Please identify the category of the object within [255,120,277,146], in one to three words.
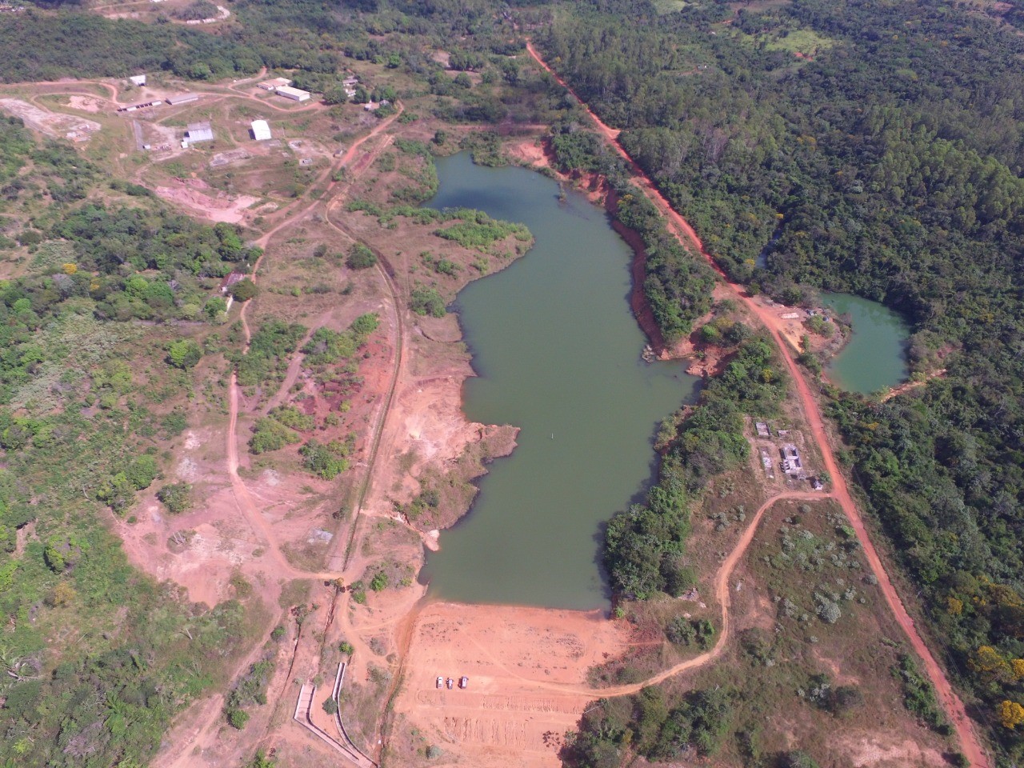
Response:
building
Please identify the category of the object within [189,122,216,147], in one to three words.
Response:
shed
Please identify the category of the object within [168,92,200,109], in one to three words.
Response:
shed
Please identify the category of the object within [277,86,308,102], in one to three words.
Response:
hangar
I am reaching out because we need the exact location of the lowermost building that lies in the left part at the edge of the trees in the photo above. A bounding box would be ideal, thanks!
[219,272,246,297]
